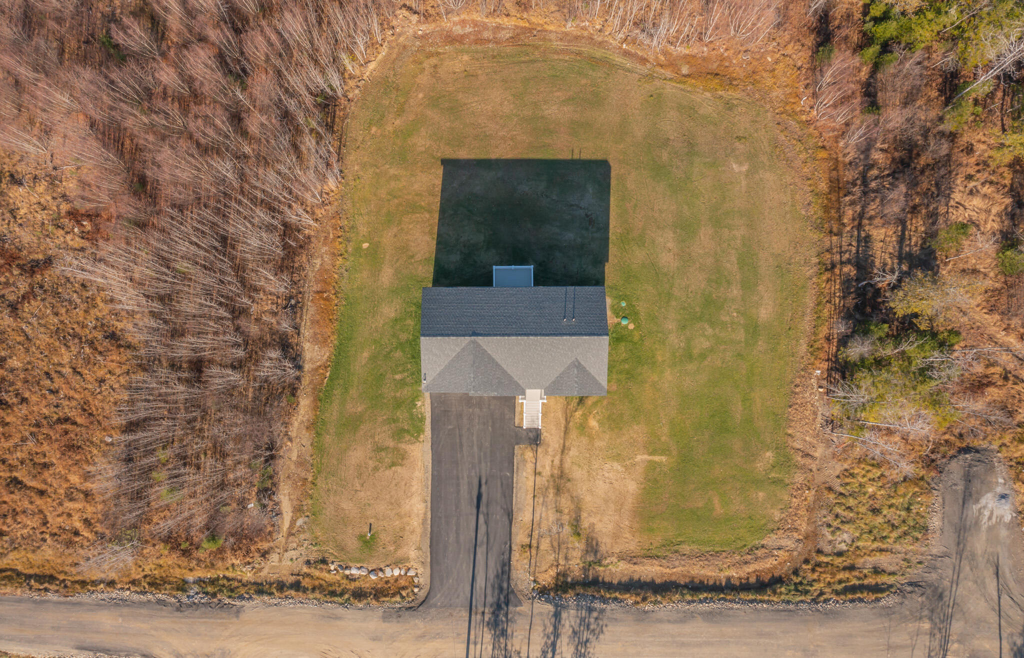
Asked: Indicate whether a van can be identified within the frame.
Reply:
No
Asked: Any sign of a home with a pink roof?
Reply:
No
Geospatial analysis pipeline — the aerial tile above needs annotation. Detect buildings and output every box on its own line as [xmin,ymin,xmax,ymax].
[421,265,609,429]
